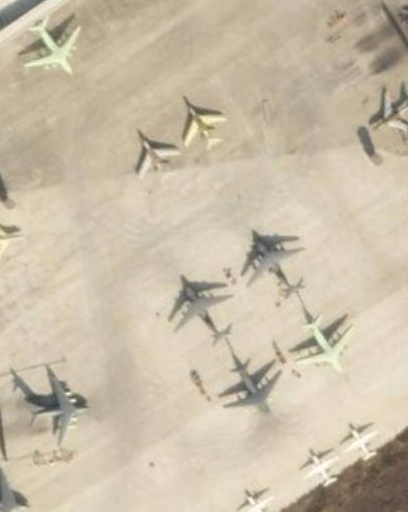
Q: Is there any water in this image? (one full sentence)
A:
No, water can't be seen anywhere here.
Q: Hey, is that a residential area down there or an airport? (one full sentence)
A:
It's an airport.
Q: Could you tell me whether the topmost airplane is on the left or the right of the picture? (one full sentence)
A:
It is on the left.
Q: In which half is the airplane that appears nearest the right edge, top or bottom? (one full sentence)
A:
Seen from above, the airplane that appears nearest the right edge lies in the top half of the view.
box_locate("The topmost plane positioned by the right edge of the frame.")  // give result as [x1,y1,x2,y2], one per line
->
[374,92,408,132]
